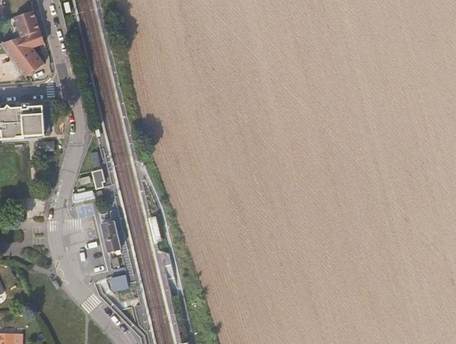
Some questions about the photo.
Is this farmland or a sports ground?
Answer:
farmland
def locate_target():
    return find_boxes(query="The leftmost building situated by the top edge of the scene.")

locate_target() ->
[0,10,43,78]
